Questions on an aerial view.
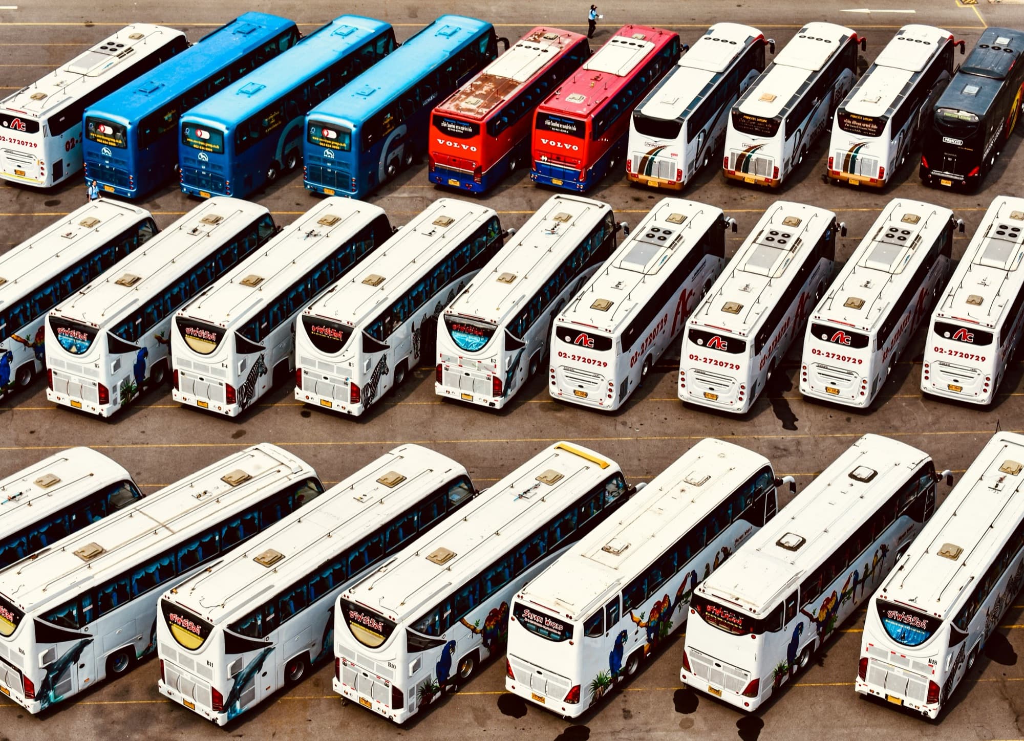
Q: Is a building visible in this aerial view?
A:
No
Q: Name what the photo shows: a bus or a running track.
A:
bus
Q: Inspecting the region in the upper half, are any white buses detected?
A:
Yes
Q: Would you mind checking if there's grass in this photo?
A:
No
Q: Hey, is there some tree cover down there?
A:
No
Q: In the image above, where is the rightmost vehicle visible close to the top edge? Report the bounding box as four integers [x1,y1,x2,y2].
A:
[919,20,1024,193]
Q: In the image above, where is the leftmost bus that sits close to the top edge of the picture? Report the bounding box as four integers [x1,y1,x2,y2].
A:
[0,20,197,188]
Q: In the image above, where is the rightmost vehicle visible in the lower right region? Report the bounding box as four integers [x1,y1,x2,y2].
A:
[854,411,1024,721]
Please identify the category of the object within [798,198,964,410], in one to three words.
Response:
bus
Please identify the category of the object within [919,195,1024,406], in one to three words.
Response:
bus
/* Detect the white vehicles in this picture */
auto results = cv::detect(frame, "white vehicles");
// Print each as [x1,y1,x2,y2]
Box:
[678,201,847,415]
[625,24,773,191]
[157,444,486,727]
[171,196,398,418]
[919,195,1024,406]
[549,198,736,413]
[0,200,160,400]
[0,20,197,188]
[45,195,286,418]
[0,443,327,714]
[434,193,627,412]
[332,442,640,727]
[503,437,794,719]
[854,411,1024,721]
[826,25,965,187]
[0,447,153,570]
[295,197,513,417]
[680,433,952,709]
[722,23,868,186]
[798,198,964,410]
